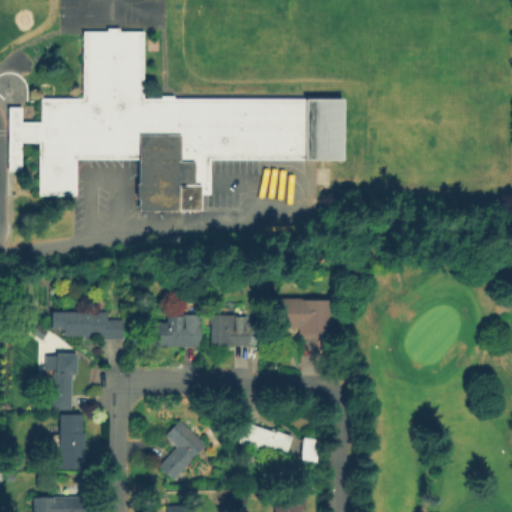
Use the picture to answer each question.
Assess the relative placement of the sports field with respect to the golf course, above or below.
above it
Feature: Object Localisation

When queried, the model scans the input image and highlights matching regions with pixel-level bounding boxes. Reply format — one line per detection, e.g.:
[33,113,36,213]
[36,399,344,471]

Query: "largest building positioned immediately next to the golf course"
[9,28,346,212]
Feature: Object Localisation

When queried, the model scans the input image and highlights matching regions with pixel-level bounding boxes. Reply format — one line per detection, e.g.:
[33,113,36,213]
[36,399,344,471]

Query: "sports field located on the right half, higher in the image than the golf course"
[170,0,512,196]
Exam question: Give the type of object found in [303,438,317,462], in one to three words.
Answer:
building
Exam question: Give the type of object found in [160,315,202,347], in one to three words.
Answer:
house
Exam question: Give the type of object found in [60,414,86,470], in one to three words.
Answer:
house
